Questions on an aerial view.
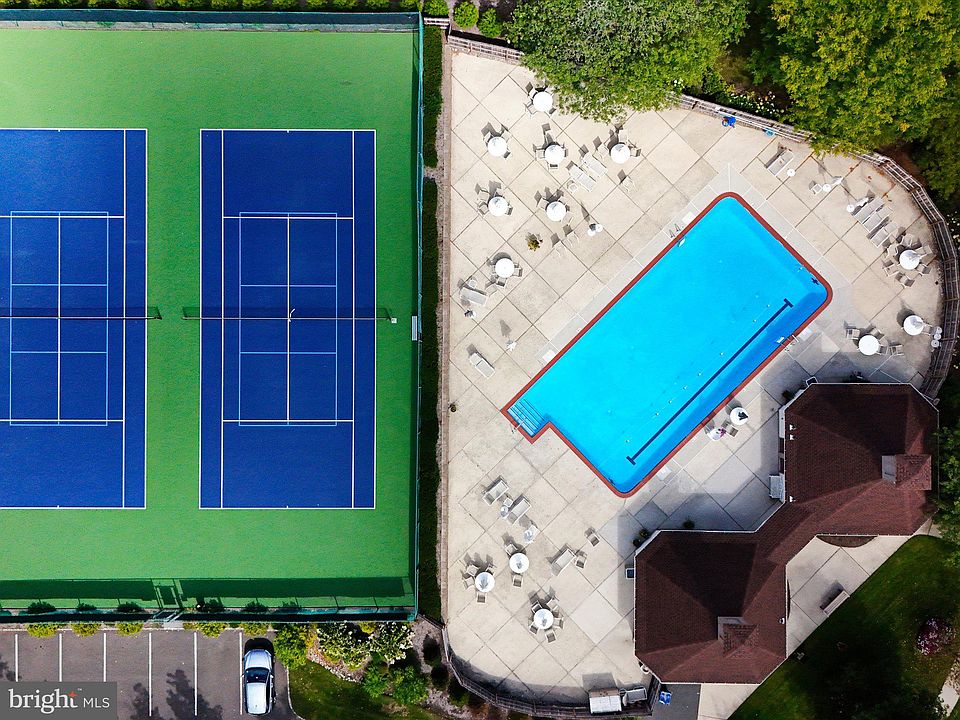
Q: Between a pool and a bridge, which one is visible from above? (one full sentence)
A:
The one in the frame is a pool.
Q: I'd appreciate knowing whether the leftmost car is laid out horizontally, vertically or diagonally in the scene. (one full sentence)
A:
Seen from above, the leftmost car lies vertically.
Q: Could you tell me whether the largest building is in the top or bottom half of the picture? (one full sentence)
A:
It is in the bottom half that the largest building appears.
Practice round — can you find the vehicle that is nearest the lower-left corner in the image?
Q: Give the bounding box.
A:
[239,645,276,719]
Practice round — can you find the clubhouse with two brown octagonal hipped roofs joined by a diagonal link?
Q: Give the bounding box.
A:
[634,383,939,683]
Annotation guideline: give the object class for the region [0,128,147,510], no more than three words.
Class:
tennis court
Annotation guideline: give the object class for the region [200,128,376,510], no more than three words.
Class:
tennis court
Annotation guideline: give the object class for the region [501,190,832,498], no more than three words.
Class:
swimming pool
